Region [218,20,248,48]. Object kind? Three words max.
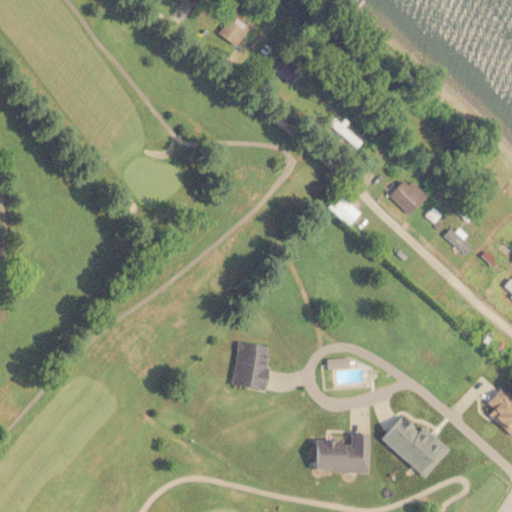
house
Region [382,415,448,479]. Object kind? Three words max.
house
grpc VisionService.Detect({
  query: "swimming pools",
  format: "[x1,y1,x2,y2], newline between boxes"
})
[332,358,376,390]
